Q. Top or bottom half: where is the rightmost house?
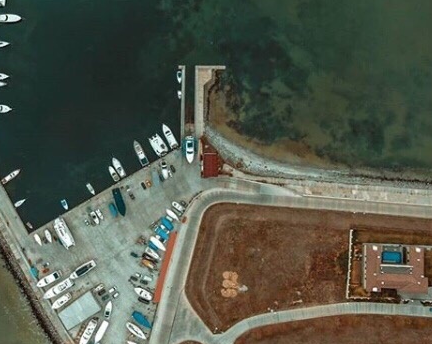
bottom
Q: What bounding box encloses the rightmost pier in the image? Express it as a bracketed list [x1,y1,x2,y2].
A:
[194,65,226,142]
